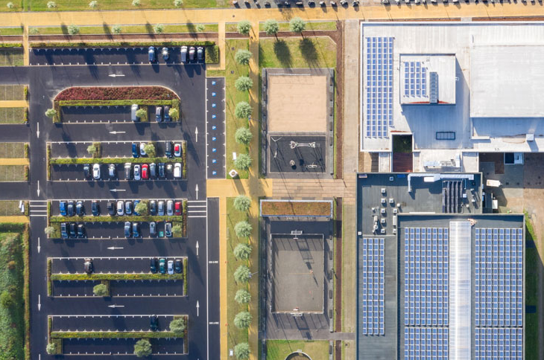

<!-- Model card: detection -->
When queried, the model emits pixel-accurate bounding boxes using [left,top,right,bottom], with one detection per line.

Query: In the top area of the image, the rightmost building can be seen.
[360,22,544,172]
